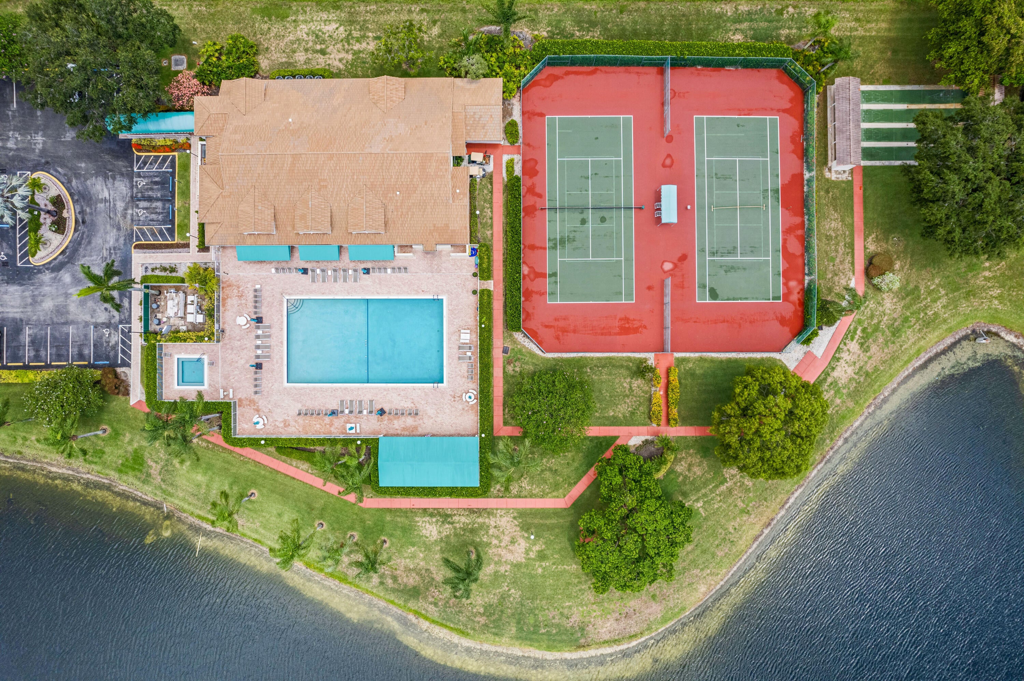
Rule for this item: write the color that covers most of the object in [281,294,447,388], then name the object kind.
blue swimming pool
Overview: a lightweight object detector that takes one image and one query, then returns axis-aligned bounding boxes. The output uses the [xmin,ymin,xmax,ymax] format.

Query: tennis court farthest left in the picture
[522,66,664,352]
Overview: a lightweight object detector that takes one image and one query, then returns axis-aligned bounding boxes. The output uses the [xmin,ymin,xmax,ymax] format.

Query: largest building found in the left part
[194,75,504,260]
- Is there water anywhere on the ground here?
Yes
